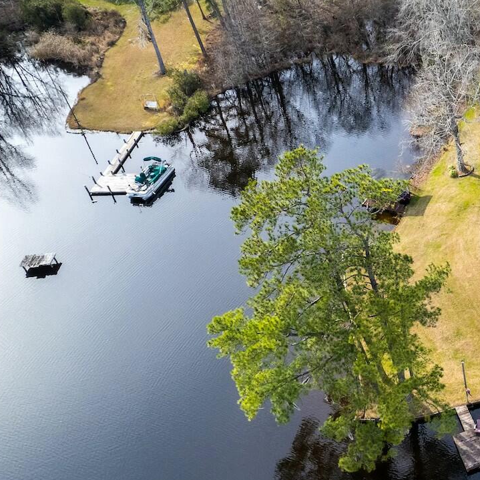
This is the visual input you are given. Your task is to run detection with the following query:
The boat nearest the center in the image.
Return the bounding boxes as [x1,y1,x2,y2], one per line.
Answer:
[122,153,184,203]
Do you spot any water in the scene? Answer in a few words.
Yes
